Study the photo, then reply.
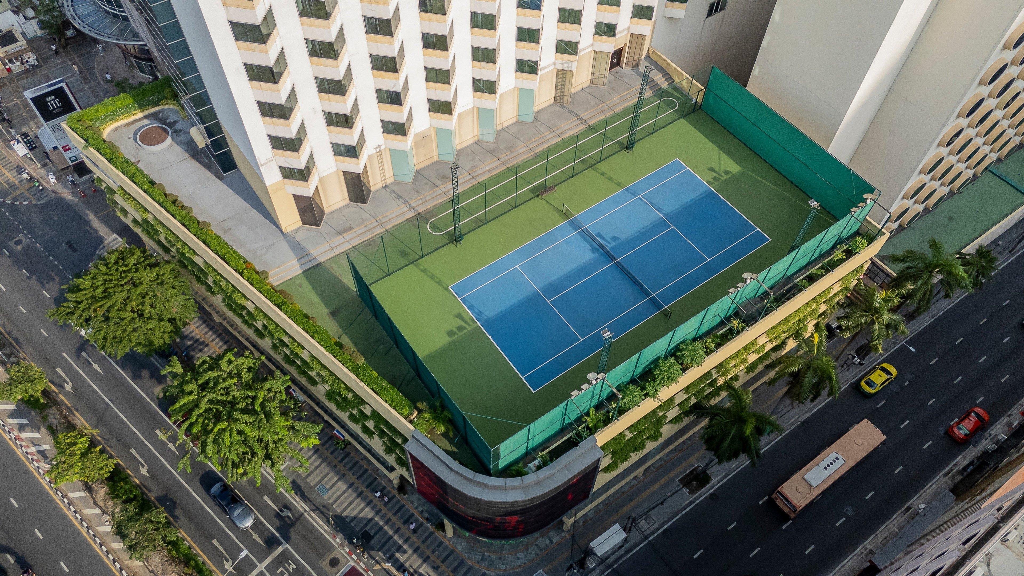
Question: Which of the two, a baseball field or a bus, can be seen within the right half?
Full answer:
You can see a bus within the right half.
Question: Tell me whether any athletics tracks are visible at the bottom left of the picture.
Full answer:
No, I see no athletics track at the bottom left of the picture.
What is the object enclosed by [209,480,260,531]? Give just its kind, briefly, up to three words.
car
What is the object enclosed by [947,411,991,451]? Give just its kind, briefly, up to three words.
car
